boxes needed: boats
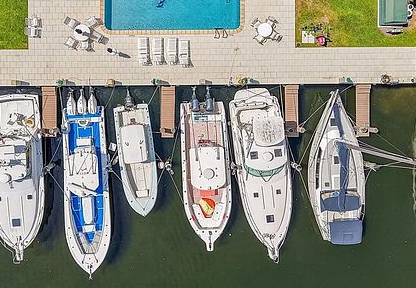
[0,94,47,267]
[309,91,416,245]
[113,88,157,217]
[61,88,112,282]
[230,87,297,267]
[179,84,232,255]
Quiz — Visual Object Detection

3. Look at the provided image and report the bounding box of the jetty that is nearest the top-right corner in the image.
[352,86,371,137]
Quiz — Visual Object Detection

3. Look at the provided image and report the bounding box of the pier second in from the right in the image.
[283,86,299,137]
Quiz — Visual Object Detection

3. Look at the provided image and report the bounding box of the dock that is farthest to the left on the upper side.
[42,86,58,137]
